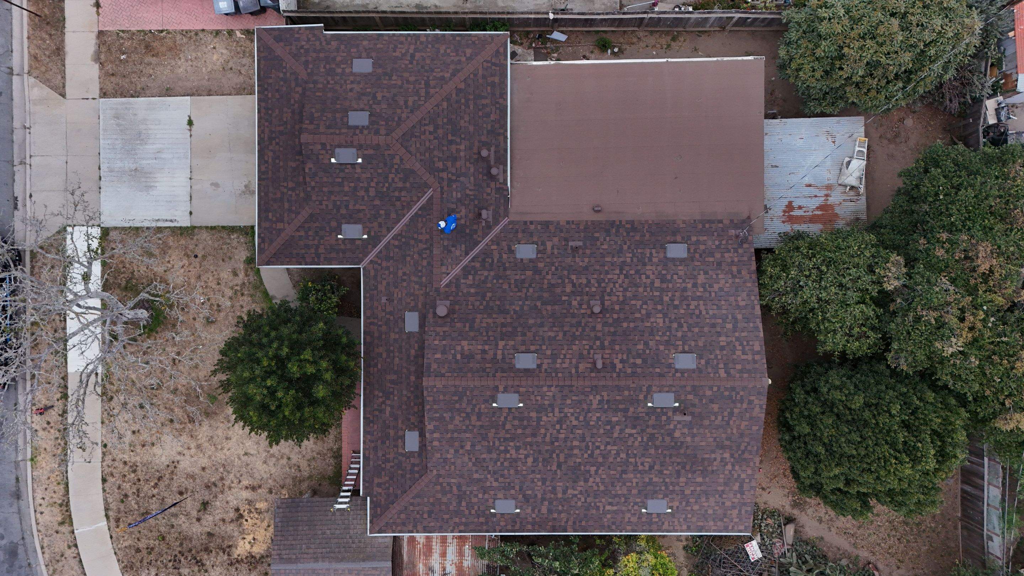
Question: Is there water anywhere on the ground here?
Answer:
No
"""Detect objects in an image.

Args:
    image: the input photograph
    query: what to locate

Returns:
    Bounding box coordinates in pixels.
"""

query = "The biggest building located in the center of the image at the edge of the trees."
[254,23,772,537]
